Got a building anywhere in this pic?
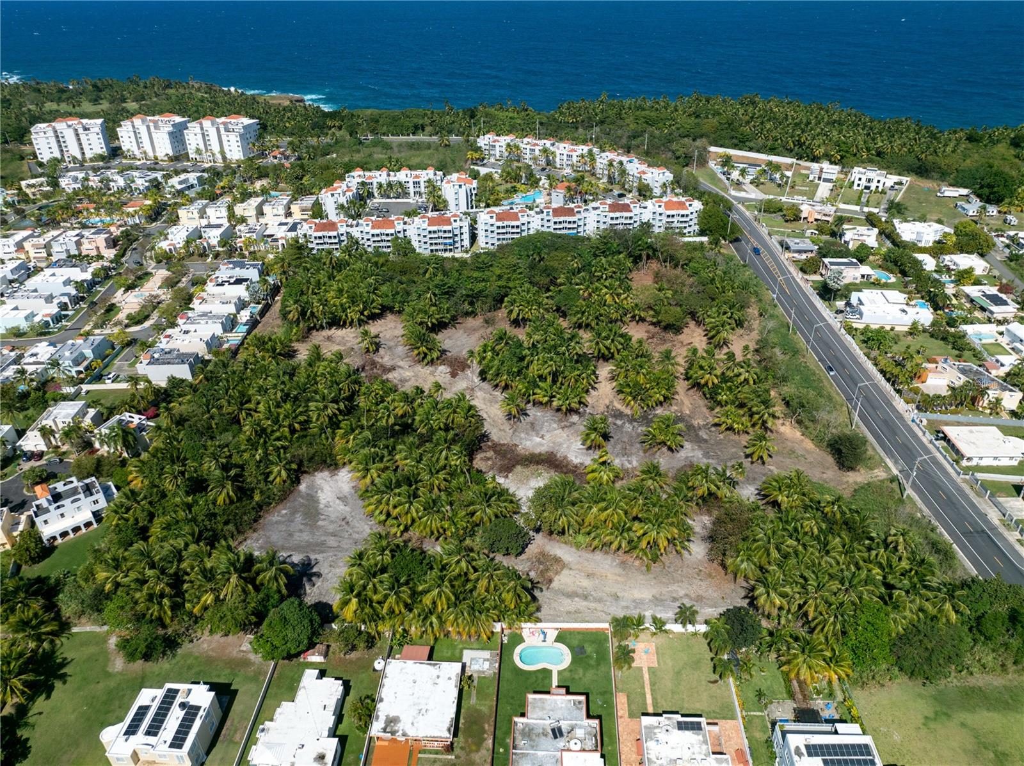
Yes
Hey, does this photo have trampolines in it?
No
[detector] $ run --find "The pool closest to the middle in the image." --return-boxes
[505,190,543,205]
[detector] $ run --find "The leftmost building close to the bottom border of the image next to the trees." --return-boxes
[98,678,222,766]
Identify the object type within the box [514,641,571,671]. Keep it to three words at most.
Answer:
swimming pool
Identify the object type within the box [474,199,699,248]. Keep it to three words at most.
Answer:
building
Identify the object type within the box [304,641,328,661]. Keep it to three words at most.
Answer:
shed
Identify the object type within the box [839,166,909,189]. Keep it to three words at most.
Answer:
house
